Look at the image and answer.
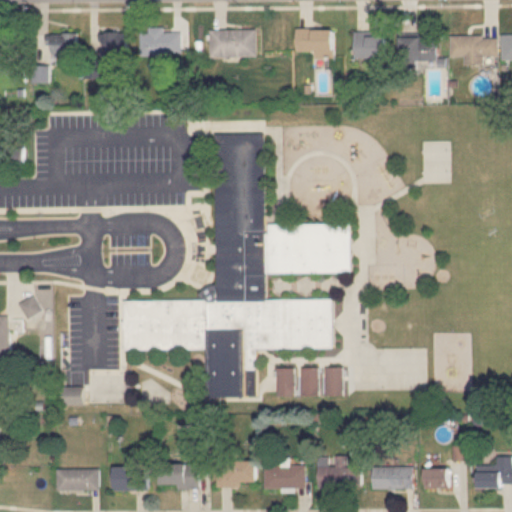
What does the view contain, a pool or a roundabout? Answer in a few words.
pool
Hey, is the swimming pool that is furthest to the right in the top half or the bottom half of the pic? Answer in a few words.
top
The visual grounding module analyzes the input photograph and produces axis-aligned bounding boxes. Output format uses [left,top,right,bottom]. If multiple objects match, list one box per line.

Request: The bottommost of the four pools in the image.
[434,424,454,444]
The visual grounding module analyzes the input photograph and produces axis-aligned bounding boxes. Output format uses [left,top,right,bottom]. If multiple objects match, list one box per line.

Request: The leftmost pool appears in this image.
[315,70,332,97]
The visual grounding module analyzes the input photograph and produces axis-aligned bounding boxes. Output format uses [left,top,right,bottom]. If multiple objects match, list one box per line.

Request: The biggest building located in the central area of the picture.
[124,133,352,398]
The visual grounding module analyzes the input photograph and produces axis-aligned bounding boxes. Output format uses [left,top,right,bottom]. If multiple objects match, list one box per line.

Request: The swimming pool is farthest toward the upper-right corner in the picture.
[471,74,493,96]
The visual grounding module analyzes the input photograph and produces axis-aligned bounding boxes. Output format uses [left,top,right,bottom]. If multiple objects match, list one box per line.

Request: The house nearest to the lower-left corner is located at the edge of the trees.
[56,470,101,496]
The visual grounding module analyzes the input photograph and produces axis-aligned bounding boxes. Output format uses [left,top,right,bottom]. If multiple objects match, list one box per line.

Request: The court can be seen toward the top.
[424,142,452,184]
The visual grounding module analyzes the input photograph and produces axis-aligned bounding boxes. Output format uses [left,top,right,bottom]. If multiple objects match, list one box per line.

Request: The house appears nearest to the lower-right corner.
[474,457,512,490]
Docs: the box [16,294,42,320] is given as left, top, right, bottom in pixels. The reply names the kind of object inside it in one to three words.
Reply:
building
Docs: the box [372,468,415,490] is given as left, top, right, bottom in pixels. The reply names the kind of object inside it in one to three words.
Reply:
house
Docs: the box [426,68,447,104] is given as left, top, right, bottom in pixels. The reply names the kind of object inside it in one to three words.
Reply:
swimming pool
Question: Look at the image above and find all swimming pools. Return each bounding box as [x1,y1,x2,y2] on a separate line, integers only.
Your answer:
[471,74,493,96]
[315,70,332,97]
[434,424,454,444]
[426,68,447,104]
